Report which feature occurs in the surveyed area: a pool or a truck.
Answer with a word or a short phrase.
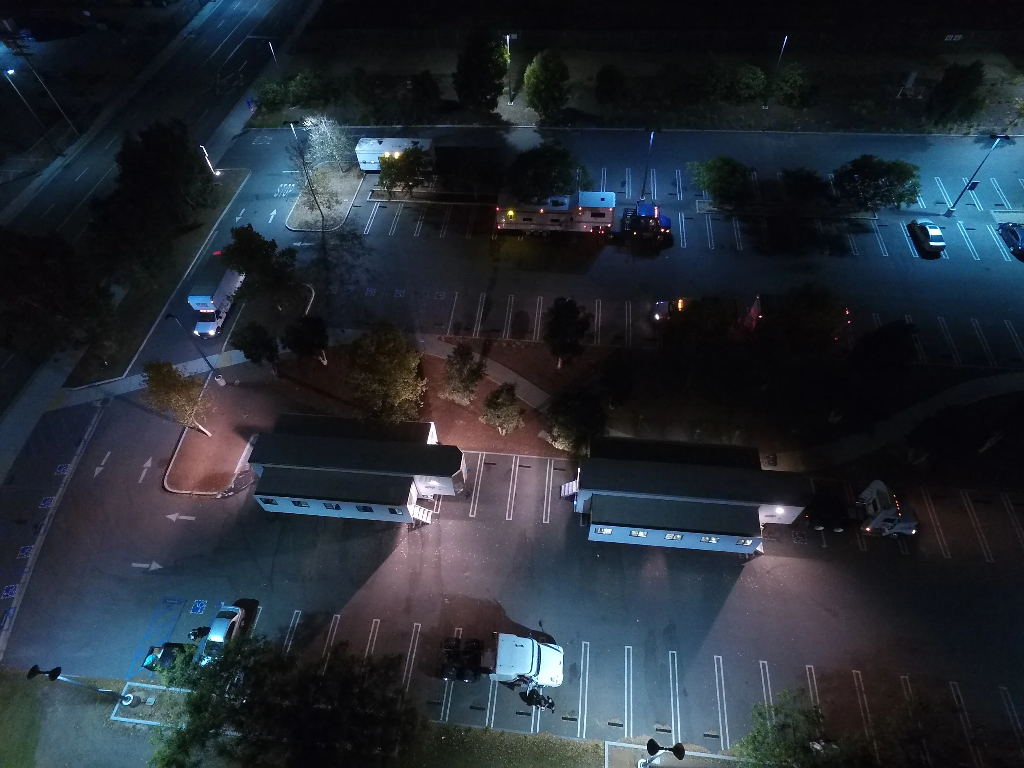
truck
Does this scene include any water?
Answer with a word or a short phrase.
No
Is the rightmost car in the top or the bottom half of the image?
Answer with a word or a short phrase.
top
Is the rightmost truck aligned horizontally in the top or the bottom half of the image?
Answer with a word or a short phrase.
bottom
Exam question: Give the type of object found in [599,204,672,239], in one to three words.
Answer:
truck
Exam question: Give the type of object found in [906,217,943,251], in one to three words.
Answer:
car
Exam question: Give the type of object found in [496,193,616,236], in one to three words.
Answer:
trailer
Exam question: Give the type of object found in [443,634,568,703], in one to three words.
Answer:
truck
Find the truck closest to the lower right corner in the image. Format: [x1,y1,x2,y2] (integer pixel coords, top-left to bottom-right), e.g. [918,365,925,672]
[797,483,917,537]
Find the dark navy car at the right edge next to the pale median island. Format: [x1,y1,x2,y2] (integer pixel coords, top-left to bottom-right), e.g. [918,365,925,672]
[997,223,1024,257]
